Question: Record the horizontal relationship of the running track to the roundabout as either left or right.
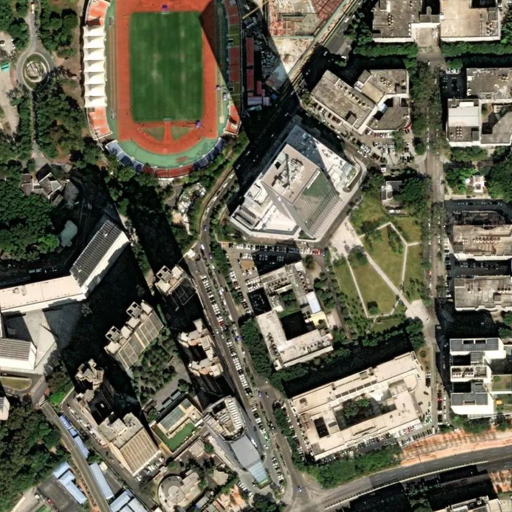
on the right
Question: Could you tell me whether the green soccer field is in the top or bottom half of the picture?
top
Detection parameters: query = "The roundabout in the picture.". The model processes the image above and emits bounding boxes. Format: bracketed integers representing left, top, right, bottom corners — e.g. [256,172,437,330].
[17,48,54,94]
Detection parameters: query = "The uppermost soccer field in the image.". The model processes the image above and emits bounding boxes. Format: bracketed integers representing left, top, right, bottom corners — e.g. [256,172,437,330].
[130,12,203,122]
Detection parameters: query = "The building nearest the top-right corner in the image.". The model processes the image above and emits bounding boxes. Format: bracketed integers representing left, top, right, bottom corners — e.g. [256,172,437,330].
[440,0,502,42]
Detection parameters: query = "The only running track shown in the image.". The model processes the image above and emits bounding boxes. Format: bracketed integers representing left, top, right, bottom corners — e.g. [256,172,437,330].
[106,0,228,165]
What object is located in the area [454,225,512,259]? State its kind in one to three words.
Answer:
building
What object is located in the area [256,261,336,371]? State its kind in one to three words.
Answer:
building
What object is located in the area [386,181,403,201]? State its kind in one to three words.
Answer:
house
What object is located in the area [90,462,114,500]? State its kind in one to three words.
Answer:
shed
